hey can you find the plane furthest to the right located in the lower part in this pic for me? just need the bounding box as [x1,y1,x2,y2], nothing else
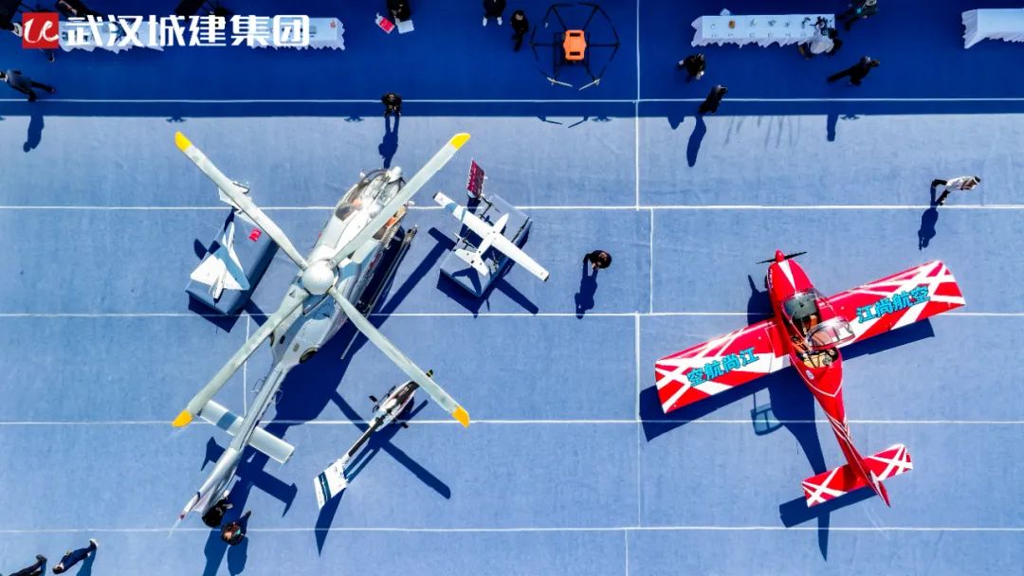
[656,250,965,508]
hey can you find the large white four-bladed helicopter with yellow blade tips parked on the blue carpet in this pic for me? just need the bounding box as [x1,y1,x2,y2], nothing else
[173,134,469,528]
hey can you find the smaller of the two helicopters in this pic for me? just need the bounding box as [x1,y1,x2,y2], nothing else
[335,368,433,464]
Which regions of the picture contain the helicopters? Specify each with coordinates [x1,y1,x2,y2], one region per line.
[173,134,469,528]
[335,368,433,464]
